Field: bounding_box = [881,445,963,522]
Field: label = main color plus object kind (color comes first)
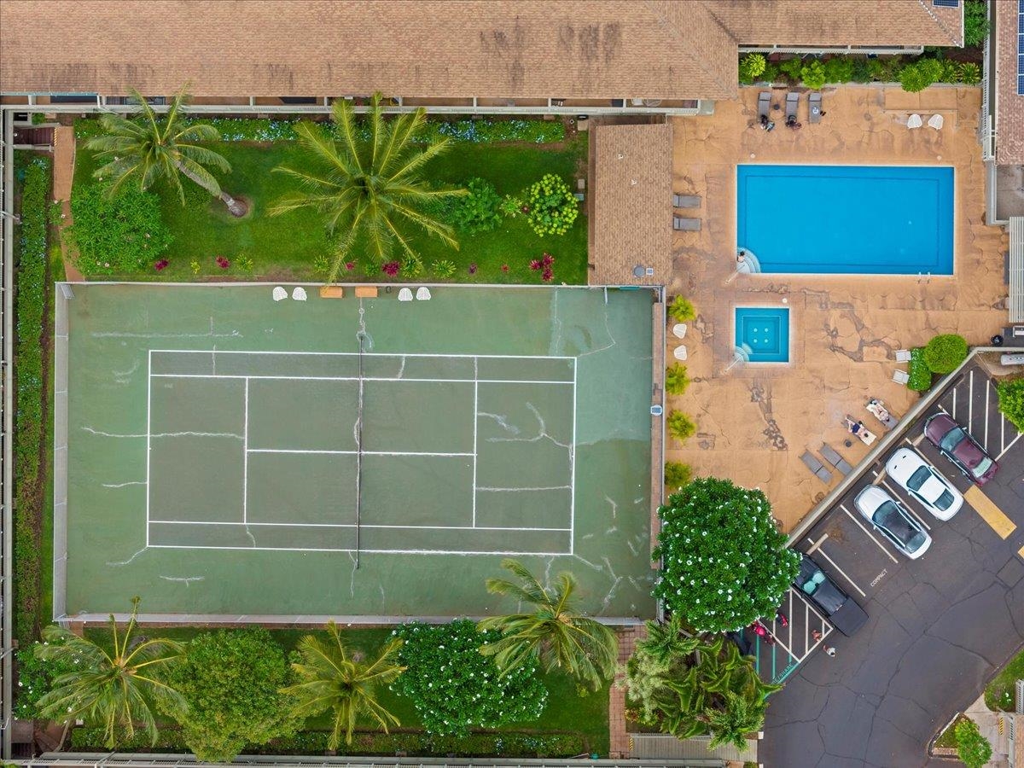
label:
white car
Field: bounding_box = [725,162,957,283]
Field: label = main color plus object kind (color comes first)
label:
blue swimming pool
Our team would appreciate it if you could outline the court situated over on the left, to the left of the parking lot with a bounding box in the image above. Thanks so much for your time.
[67,286,658,619]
